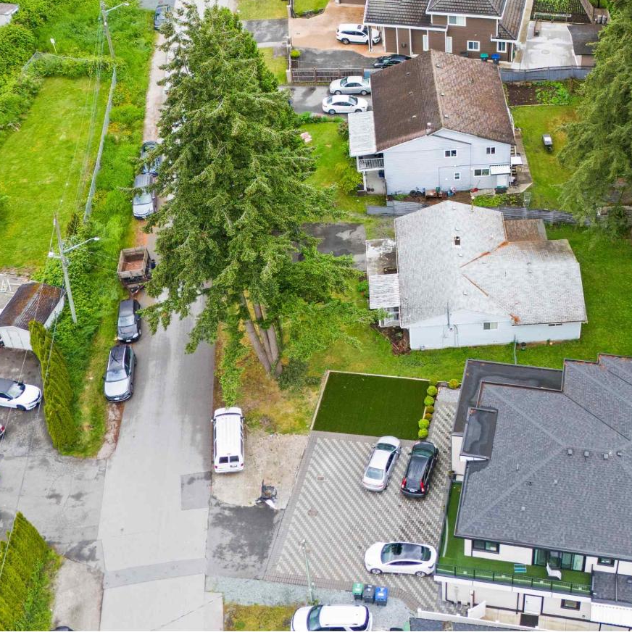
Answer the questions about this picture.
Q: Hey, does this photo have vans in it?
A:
Yes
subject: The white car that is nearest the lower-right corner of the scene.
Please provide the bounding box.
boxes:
[362,540,435,579]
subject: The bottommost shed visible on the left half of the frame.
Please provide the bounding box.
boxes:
[0,282,69,347]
